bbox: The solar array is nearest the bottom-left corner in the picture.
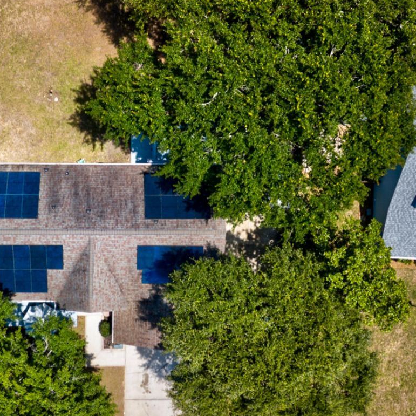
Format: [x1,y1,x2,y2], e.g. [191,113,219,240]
[0,245,64,290]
